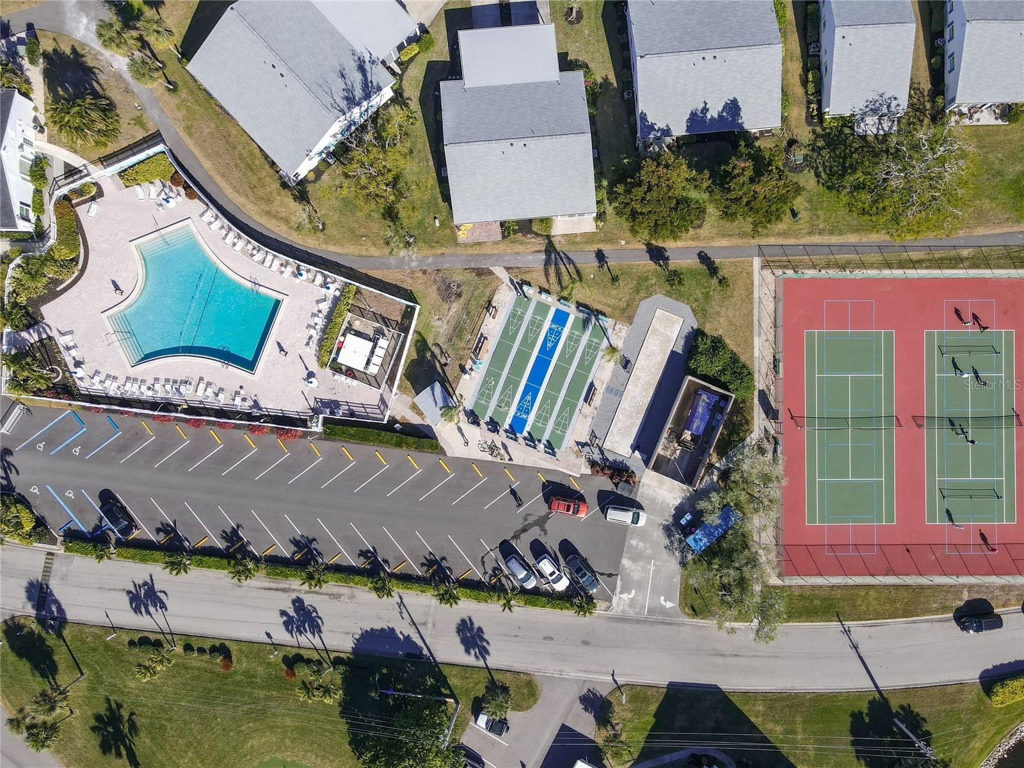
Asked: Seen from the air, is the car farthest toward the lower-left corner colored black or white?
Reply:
black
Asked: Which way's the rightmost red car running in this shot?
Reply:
horizontally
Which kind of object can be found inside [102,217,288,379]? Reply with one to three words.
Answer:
swimming pool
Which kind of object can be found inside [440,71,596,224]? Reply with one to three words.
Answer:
house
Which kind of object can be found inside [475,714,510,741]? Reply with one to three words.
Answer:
car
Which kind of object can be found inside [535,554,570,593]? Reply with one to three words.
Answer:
car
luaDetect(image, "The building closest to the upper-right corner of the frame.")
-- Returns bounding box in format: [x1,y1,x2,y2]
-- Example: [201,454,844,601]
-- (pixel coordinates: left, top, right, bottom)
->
[944,0,1024,106]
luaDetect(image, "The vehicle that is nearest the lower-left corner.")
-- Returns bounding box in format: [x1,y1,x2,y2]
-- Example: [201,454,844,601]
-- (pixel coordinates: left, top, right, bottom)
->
[98,499,134,537]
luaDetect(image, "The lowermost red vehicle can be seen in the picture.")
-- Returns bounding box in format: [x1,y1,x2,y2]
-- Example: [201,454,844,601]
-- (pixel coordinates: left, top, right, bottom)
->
[549,499,588,520]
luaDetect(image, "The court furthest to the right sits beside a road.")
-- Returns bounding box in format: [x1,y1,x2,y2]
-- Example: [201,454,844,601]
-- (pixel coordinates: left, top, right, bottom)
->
[910,277,1024,576]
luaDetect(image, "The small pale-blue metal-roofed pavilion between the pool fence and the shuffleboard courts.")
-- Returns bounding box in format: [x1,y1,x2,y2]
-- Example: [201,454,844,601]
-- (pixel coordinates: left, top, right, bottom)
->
[414,381,450,424]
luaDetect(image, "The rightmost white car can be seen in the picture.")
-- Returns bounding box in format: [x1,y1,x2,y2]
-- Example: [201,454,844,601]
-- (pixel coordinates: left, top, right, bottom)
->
[604,505,647,528]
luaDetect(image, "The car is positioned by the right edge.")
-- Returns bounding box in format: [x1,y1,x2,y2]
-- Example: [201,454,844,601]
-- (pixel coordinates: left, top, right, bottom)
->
[962,612,1007,636]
